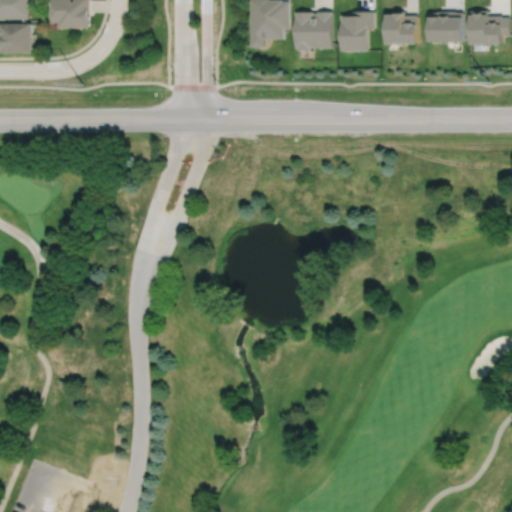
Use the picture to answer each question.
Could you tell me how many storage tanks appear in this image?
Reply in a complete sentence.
There are no storage tanks in the image.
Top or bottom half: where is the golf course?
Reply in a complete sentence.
The golf course is in the bottom half of the image.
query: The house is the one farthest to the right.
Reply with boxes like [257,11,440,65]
[466,14,512,46]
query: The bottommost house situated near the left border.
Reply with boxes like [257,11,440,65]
[0,22,32,54]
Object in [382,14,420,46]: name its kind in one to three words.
house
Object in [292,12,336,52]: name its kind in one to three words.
house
